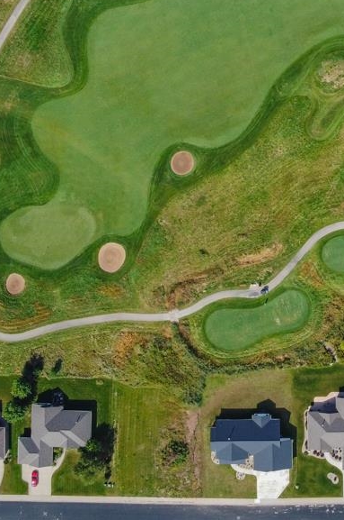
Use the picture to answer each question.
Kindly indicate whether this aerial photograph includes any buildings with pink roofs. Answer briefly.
No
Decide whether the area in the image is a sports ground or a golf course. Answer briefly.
golf course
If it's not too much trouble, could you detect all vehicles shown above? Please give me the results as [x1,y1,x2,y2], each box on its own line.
[30,469,38,486]
[261,286,270,294]
[248,284,259,289]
